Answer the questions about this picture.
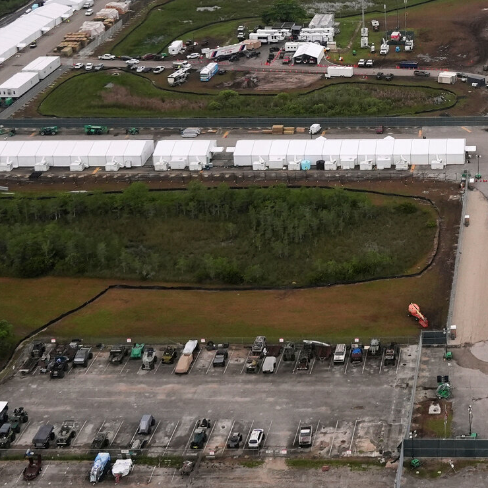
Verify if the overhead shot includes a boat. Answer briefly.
Yes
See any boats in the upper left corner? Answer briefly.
No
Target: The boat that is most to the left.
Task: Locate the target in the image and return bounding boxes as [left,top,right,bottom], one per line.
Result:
[16,451,49,487]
